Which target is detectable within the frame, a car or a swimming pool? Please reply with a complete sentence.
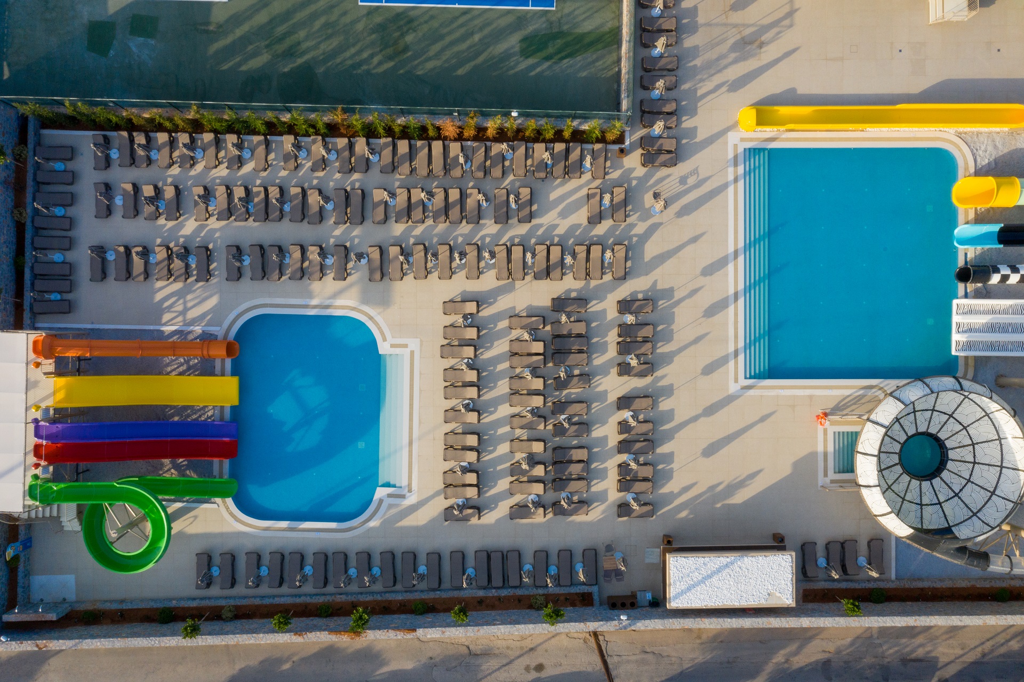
The one in the frame is a swimming pool.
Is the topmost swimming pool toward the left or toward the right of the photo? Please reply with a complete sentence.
You can find the topmost swimming pool on the right side of the picture.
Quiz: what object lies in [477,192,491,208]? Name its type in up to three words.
umbrella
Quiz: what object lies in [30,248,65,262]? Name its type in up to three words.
umbrella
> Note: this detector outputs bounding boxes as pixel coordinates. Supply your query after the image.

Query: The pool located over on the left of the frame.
[213,299,419,537]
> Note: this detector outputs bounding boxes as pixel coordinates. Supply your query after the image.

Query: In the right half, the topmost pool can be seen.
[729,133,974,394]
